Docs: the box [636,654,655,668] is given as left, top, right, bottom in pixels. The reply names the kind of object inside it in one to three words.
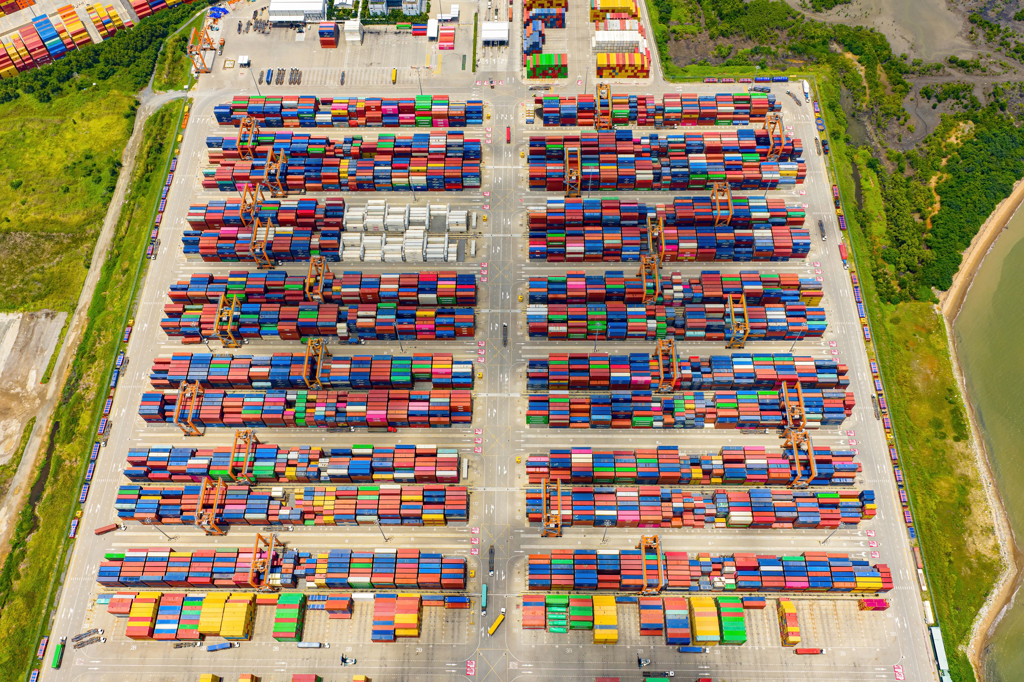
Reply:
work vehicle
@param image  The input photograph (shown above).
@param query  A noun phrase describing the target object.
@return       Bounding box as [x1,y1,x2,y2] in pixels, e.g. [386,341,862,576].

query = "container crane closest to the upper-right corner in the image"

[763,115,789,164]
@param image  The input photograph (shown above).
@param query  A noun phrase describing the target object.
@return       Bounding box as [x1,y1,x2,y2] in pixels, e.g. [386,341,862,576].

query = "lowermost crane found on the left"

[246,532,286,594]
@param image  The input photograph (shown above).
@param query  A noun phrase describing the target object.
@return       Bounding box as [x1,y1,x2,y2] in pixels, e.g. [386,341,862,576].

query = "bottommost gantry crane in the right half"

[634,533,665,596]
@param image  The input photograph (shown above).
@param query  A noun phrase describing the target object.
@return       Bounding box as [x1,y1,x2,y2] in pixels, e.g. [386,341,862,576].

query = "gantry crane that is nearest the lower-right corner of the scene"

[778,430,816,489]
